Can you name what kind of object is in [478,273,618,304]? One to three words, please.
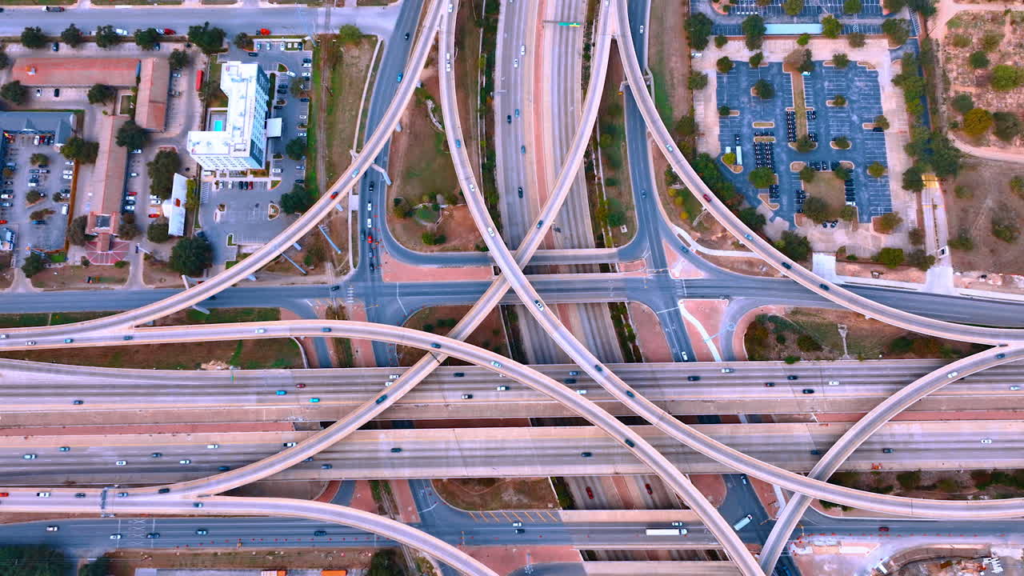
overpass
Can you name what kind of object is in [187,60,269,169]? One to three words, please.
building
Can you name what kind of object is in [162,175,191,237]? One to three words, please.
building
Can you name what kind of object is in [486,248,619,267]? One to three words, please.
bridge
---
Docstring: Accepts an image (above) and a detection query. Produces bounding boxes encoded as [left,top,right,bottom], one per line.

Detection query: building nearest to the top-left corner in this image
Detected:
[0,112,78,189]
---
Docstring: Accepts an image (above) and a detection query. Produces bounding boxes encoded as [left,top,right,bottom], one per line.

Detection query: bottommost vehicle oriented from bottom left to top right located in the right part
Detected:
[735,513,753,531]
